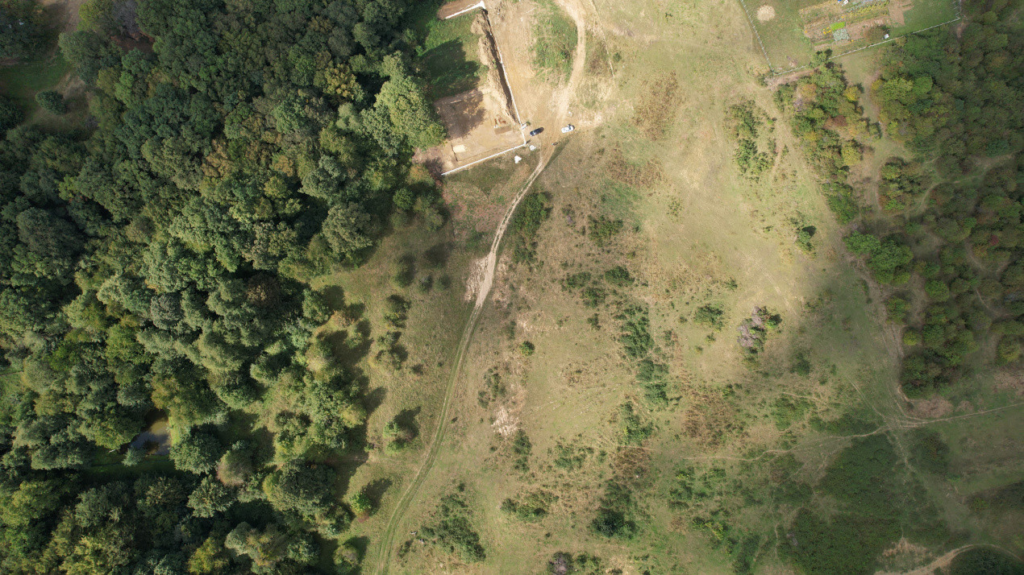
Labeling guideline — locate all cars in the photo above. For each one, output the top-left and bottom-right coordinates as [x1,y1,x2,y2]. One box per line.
[560,122,575,133]
[530,125,544,136]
